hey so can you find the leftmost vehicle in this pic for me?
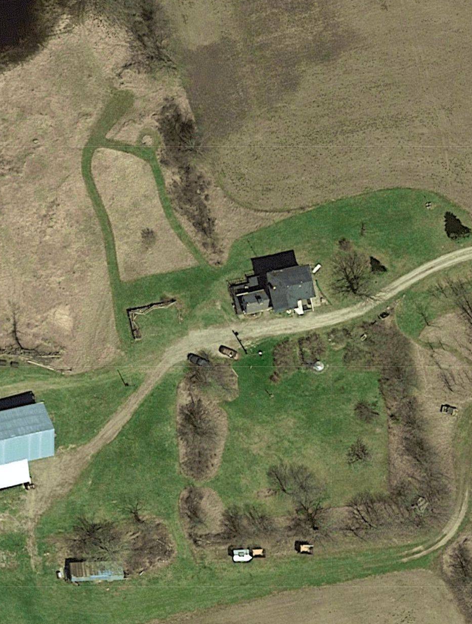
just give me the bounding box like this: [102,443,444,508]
[187,353,208,367]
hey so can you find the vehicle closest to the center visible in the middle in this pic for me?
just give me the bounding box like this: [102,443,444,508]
[218,345,238,358]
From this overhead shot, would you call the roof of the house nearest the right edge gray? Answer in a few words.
Yes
